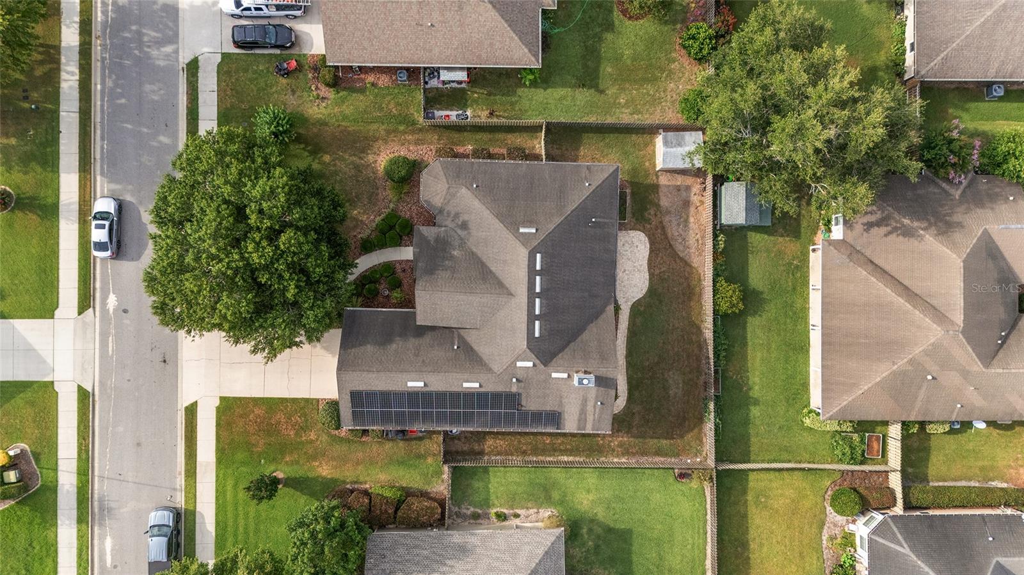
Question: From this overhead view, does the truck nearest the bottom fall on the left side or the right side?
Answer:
left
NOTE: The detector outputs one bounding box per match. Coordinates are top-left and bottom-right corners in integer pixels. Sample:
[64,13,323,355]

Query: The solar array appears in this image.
[351,391,559,429]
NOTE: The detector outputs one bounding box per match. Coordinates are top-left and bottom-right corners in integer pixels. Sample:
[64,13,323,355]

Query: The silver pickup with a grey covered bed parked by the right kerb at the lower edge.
[145,504,181,575]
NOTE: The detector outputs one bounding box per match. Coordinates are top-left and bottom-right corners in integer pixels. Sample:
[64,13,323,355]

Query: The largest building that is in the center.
[337,157,621,436]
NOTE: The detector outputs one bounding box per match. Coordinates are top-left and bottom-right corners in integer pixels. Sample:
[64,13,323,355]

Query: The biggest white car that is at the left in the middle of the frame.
[86,196,122,258]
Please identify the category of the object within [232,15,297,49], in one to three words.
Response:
car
